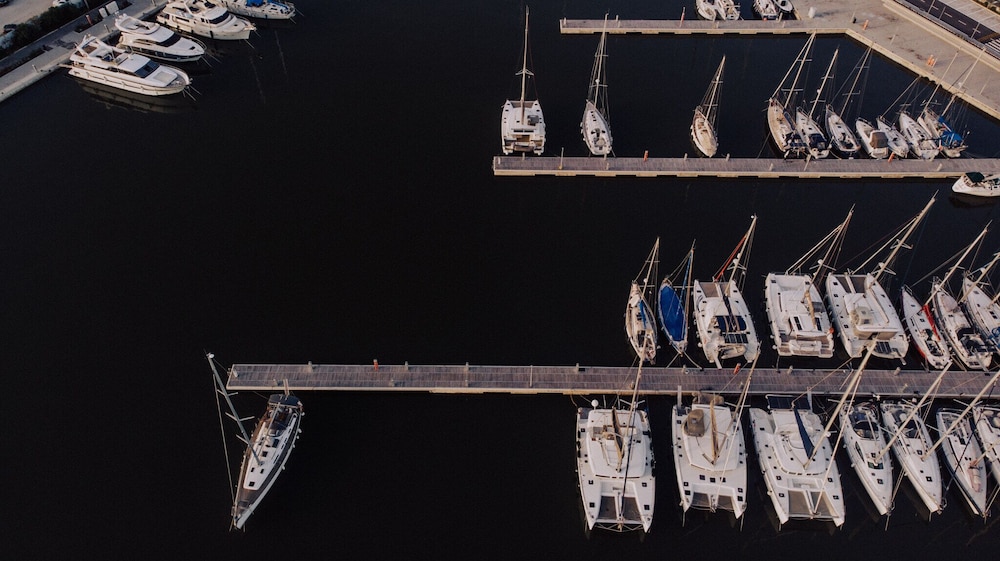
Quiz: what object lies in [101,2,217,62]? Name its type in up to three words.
boat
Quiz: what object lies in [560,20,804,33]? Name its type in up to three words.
pier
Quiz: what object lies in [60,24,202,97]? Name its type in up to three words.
boat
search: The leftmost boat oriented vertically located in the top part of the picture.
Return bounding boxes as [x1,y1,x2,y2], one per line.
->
[499,2,546,156]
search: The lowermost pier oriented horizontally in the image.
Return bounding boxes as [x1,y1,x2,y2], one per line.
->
[228,365,1000,400]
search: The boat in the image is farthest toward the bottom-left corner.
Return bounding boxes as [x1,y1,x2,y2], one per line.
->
[207,350,309,542]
